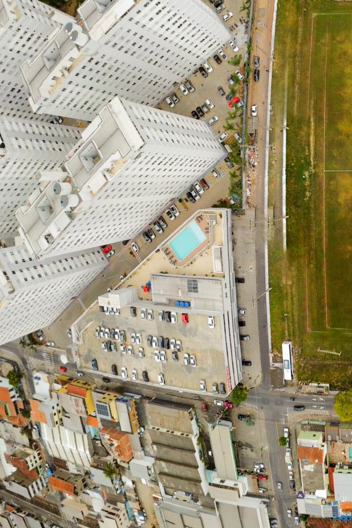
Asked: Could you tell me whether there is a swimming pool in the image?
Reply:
Yes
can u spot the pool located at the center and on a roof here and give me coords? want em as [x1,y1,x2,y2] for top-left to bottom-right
[163,217,212,267]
